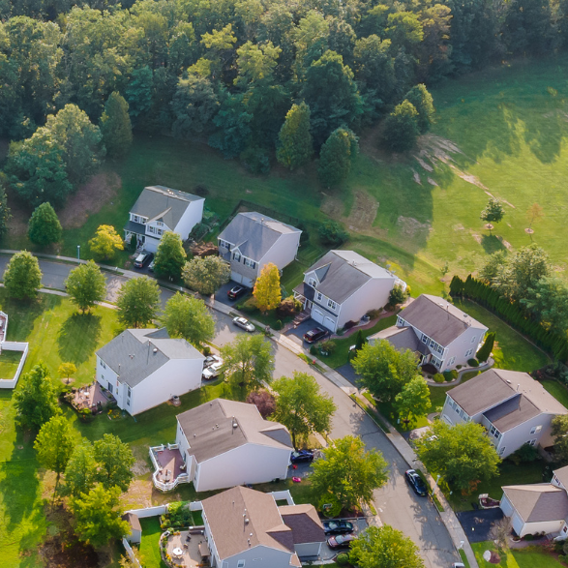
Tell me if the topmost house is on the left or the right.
left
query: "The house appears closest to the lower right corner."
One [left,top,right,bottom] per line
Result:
[499,450,568,534]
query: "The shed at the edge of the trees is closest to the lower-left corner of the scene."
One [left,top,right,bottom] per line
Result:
[118,520,145,551]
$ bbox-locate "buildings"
[95,326,206,417]
[118,520,145,551]
[122,176,203,246]
[291,250,395,331]
[441,367,568,459]
[499,450,568,534]
[211,211,302,287]
[366,293,488,375]
[194,485,326,568]
[151,397,294,494]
